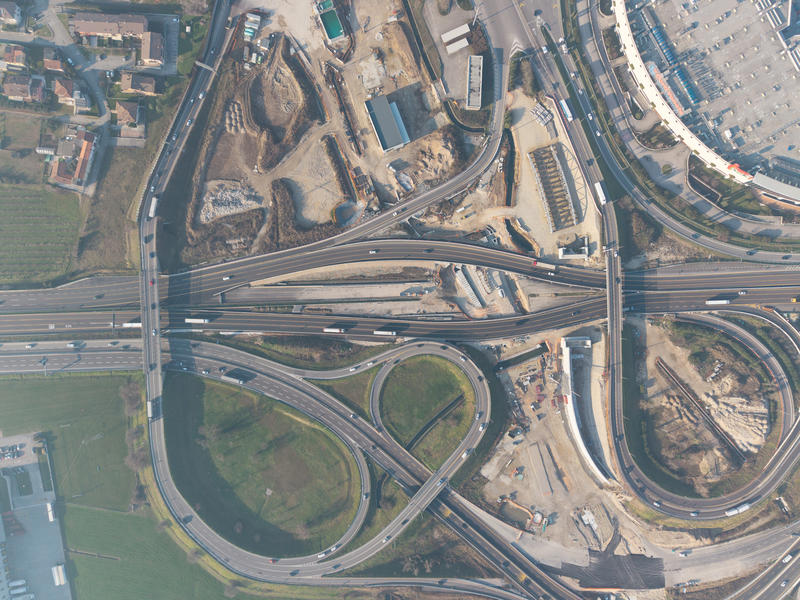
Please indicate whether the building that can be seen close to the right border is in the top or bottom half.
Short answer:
top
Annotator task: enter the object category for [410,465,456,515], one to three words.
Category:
bridge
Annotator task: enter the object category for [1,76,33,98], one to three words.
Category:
house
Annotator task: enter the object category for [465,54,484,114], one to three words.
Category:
building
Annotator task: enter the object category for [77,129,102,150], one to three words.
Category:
house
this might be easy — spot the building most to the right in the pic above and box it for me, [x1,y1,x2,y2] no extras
[606,0,800,203]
